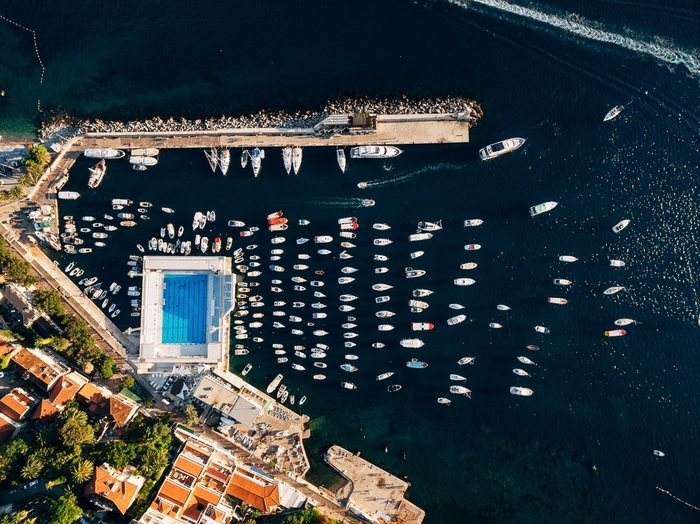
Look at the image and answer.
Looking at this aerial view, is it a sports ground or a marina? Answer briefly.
marina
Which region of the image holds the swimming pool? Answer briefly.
left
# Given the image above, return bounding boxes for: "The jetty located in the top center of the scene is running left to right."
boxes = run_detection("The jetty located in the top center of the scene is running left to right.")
[83,113,470,150]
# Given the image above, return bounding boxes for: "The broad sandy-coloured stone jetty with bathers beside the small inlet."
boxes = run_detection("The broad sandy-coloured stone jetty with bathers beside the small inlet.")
[327,445,427,524]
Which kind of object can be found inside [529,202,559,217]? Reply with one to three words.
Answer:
boat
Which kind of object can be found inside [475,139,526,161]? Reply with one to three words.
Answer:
boat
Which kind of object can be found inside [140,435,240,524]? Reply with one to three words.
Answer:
building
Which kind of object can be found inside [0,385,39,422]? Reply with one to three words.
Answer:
house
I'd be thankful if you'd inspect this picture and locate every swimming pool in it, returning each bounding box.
[141,256,237,372]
